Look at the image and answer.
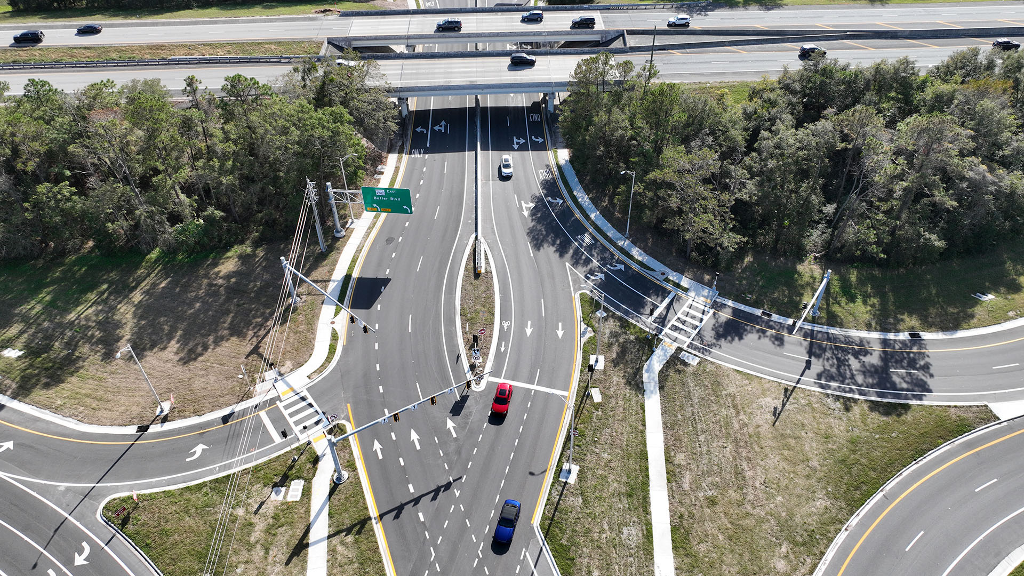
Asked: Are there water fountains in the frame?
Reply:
No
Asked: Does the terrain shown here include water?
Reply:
No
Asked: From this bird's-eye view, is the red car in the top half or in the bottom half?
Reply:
bottom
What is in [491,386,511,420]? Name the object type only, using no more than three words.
car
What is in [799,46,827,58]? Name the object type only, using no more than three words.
vehicle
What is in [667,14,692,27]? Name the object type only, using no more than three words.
vehicle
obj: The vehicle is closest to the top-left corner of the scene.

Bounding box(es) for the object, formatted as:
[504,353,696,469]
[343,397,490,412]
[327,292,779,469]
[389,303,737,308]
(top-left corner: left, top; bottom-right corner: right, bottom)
[13,30,42,44]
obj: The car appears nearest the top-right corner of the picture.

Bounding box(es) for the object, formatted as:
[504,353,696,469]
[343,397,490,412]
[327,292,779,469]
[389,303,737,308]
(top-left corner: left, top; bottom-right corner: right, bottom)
[993,37,1022,51]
